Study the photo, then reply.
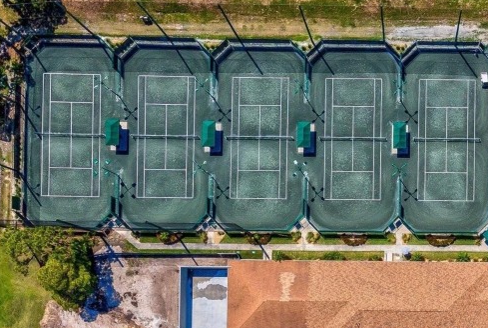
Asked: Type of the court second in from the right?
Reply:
tennis court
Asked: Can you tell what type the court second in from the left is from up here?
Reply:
tennis court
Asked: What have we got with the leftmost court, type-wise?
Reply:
tennis court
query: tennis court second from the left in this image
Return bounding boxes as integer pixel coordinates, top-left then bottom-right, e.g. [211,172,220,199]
[122,45,216,232]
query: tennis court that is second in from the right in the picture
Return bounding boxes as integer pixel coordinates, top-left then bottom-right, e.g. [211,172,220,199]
[308,47,400,235]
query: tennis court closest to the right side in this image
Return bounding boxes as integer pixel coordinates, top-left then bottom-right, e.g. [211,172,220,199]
[400,48,488,236]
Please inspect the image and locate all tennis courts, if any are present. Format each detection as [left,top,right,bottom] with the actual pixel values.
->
[122,45,216,232]
[32,42,122,228]
[215,46,310,233]
[400,48,488,236]
[308,47,400,235]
